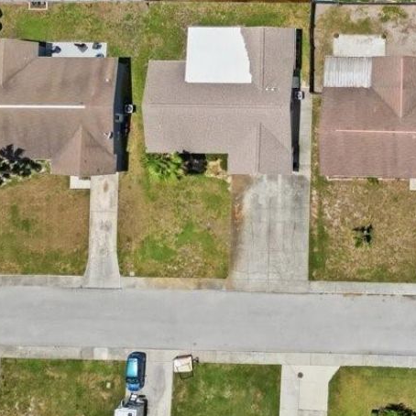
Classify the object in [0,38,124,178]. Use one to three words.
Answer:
house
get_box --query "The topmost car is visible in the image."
[124,351,146,391]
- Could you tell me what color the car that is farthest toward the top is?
blue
